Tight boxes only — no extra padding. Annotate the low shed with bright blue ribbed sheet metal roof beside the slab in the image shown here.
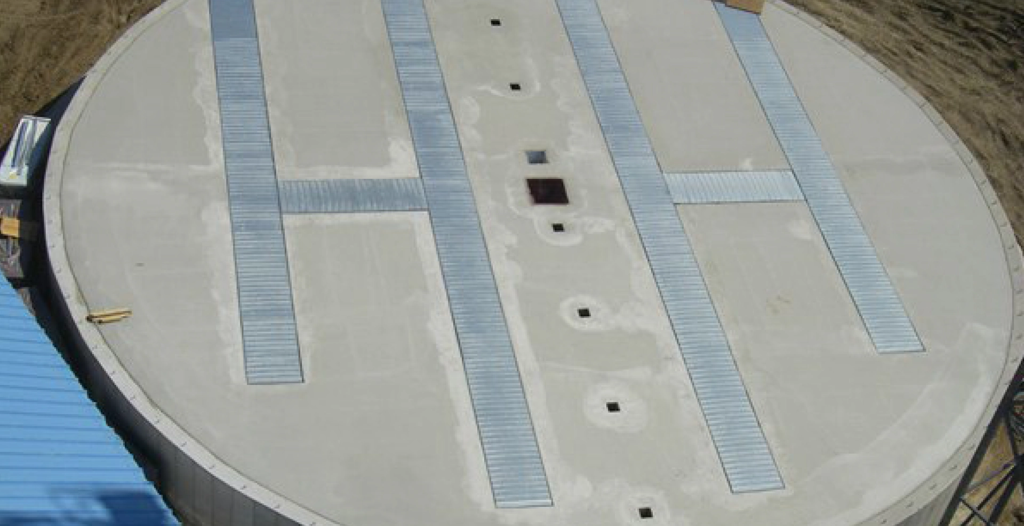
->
[0,270,181,526]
